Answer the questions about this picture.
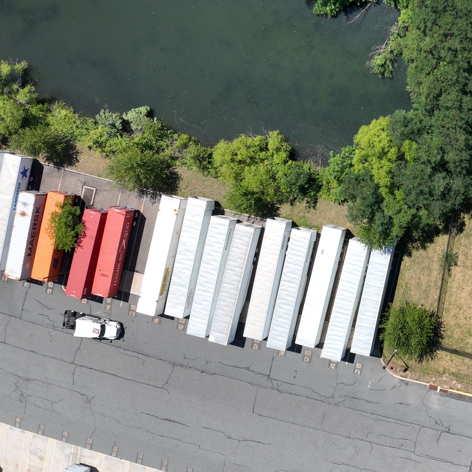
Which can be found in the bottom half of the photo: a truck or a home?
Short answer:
truck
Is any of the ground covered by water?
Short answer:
Yes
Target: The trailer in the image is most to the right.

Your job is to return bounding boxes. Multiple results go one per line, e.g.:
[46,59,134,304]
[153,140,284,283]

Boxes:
[350,237,400,357]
